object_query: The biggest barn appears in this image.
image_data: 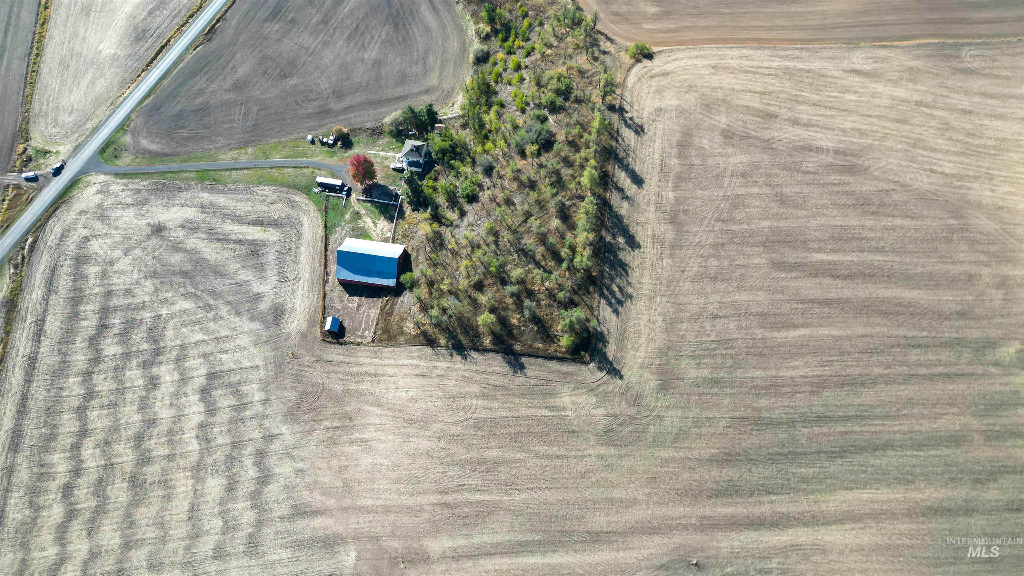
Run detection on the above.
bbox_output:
[336,237,405,289]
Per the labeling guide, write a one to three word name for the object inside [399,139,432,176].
house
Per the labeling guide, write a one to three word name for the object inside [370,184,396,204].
building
